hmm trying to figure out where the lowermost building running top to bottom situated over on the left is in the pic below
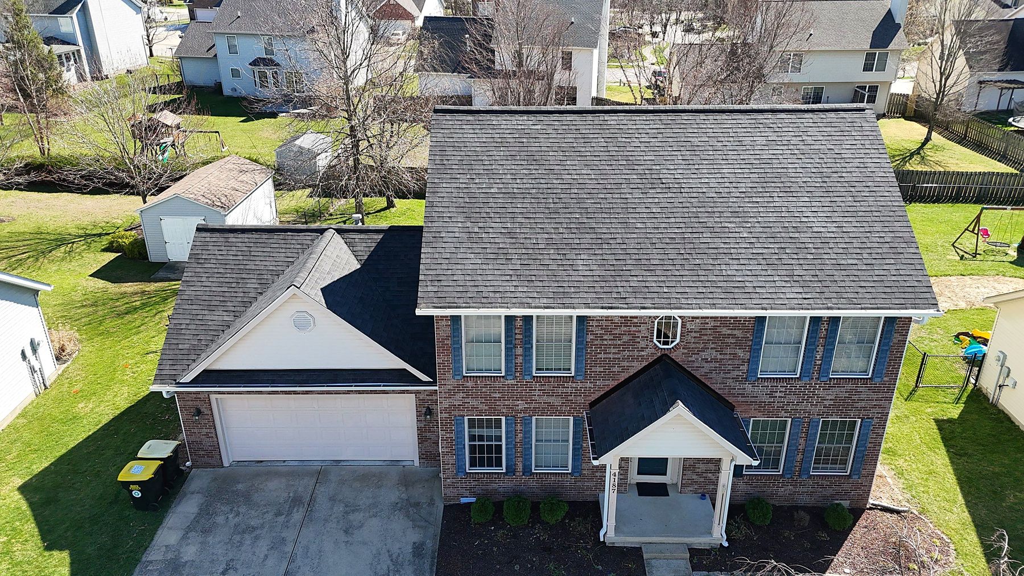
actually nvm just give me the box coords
[0,281,60,424]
